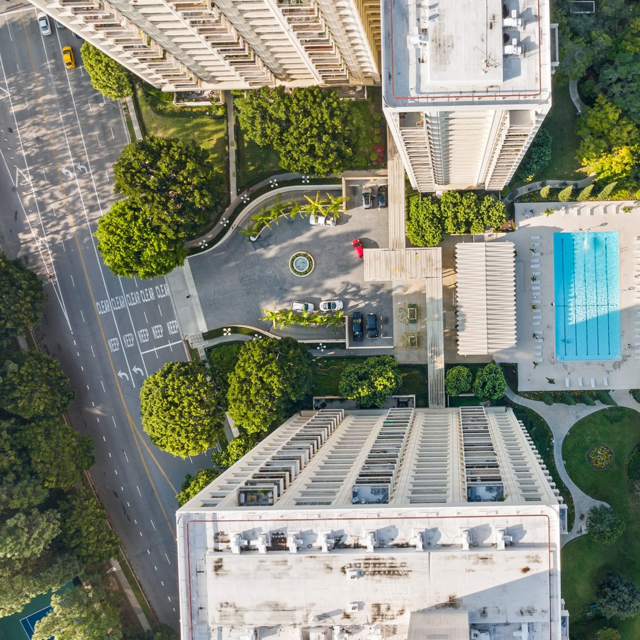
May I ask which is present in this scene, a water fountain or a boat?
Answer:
water fountain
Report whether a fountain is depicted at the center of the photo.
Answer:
Yes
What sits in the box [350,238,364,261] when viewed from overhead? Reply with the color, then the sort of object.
red vehicle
